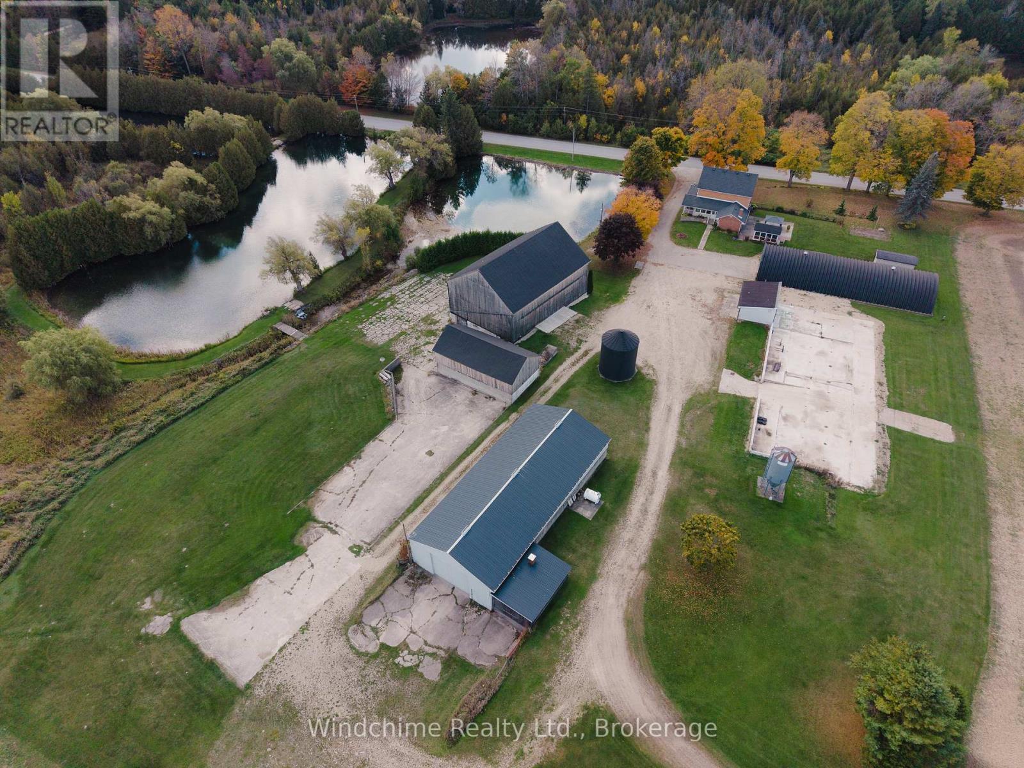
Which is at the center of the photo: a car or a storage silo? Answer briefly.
storage silo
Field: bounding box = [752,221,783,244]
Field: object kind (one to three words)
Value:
building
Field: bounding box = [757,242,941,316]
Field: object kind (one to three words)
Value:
shed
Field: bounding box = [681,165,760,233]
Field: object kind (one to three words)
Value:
house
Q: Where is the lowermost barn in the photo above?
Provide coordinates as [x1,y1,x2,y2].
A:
[404,403,613,633]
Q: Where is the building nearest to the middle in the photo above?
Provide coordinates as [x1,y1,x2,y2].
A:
[432,323,542,404]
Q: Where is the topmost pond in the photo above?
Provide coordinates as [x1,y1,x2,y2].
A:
[384,25,528,111]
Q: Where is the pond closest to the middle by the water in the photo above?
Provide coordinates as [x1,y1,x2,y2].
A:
[427,154,626,256]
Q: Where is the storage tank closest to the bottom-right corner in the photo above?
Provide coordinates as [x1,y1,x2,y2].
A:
[765,453,794,483]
